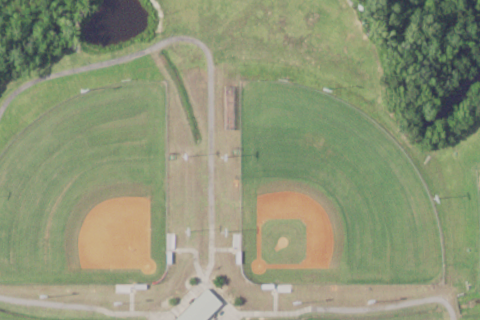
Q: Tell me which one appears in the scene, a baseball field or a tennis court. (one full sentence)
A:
Looking from above, you can make out a baseball field.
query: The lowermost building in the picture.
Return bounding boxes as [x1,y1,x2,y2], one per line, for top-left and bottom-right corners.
[179,290,223,320]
